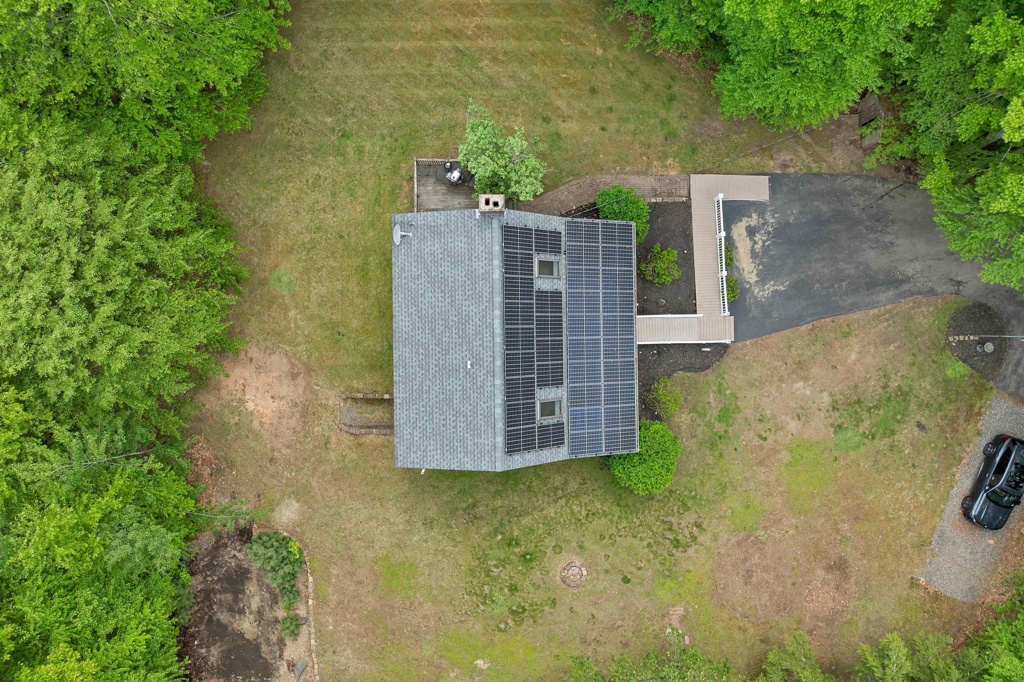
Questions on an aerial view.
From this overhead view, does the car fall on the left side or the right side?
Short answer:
right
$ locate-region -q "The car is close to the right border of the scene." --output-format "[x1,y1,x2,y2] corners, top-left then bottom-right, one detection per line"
[961,434,1024,532]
